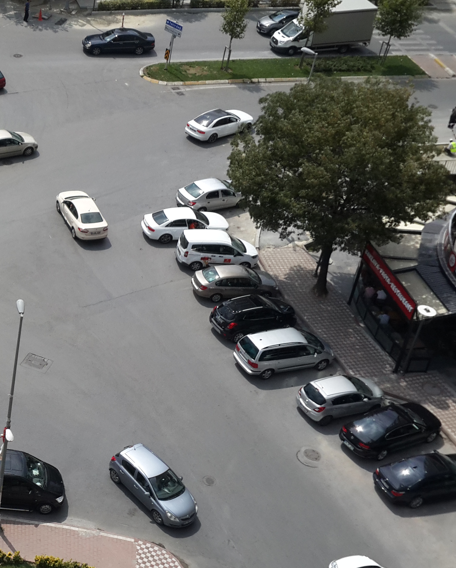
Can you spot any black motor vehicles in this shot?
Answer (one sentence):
Yes, the image includes a black motor vehicle.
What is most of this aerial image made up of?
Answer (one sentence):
For the most part, this view shows paved ground.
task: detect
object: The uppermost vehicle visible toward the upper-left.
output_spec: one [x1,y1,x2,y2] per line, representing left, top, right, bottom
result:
[80,28,155,55]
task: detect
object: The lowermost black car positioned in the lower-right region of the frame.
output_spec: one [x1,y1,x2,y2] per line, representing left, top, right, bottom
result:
[370,446,456,510]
